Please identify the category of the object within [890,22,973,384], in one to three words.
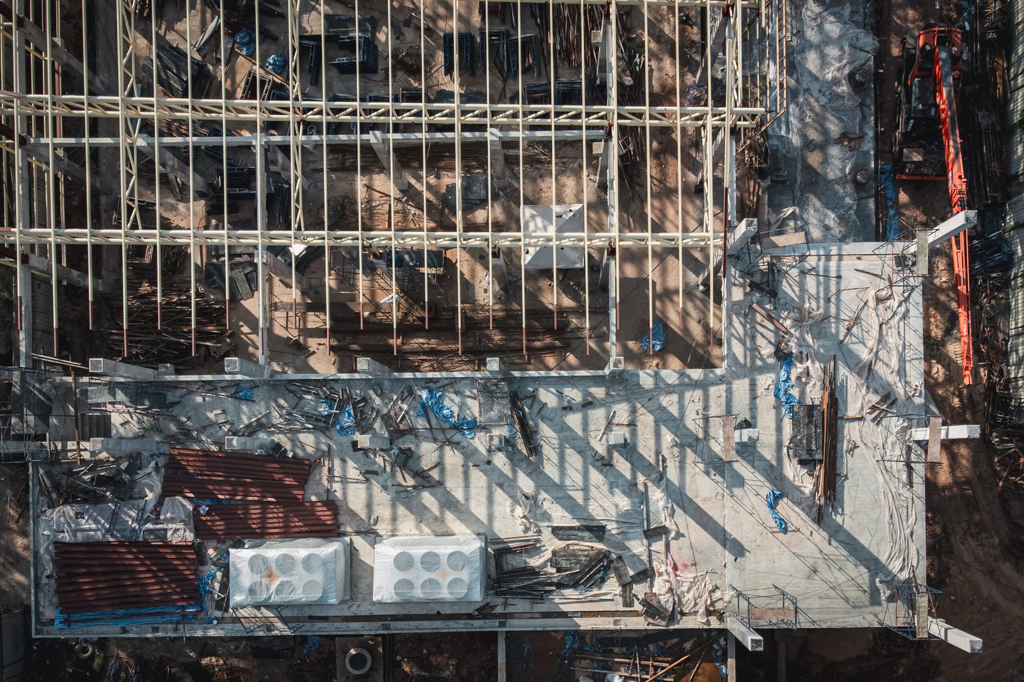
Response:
crane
